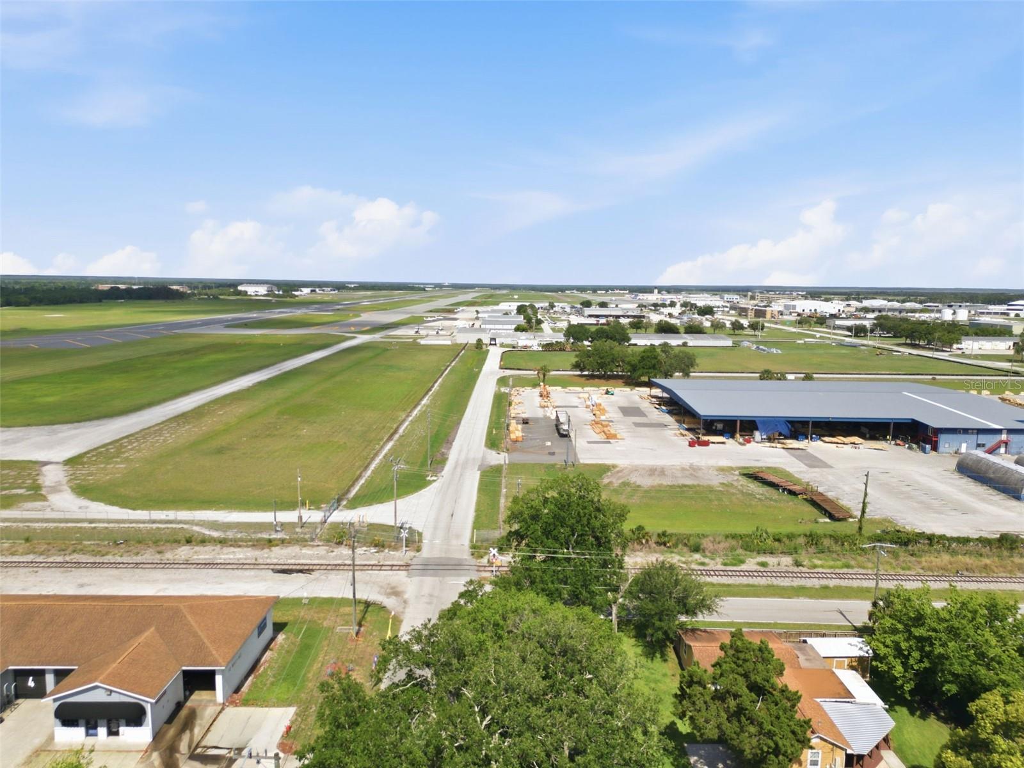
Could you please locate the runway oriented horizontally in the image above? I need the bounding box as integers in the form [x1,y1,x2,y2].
[0,289,472,348]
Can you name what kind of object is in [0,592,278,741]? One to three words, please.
building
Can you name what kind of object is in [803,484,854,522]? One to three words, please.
trailer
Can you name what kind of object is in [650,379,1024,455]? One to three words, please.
shed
